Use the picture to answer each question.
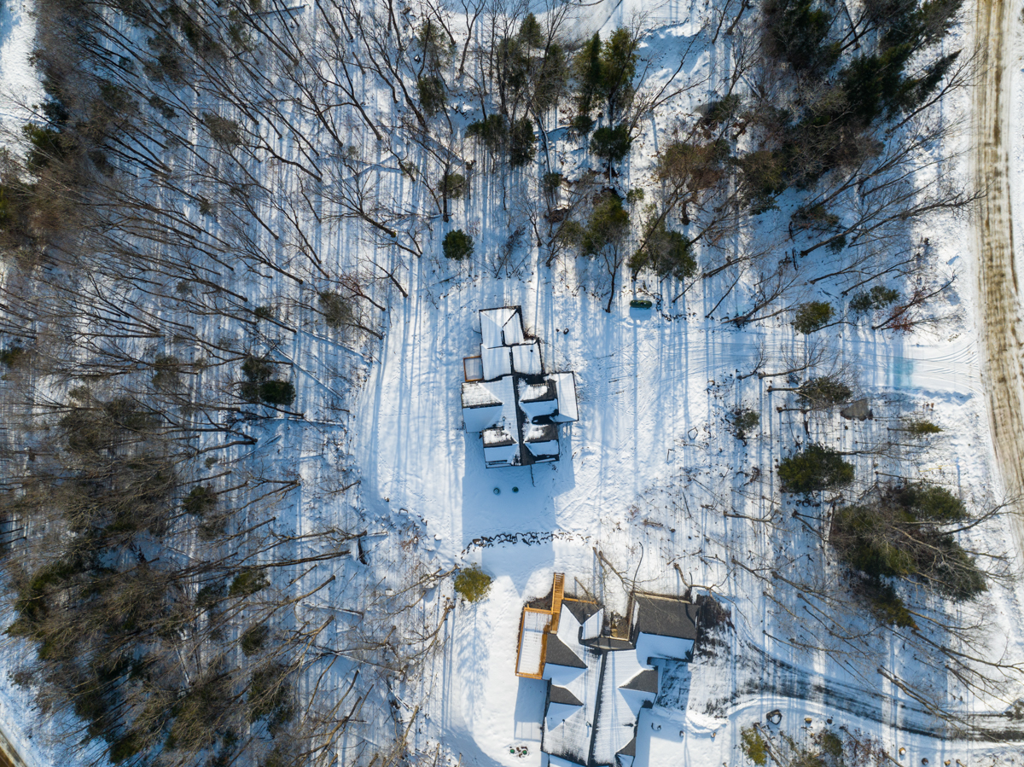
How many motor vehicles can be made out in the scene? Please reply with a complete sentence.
There are no motor vehicles in the image.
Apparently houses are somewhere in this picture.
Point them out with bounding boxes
[462,306,578,469]
[514,573,702,767]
